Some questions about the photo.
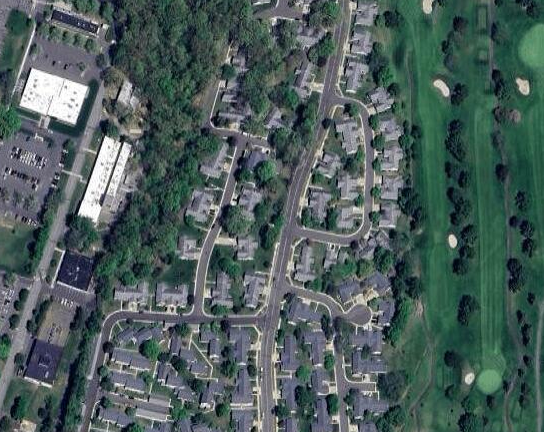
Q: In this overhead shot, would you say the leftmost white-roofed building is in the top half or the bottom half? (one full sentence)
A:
The top half of the photo is where the leftmost white-roofed building is.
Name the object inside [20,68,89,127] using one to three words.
building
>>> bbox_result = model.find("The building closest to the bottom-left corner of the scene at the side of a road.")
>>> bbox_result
[24,339,63,380]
